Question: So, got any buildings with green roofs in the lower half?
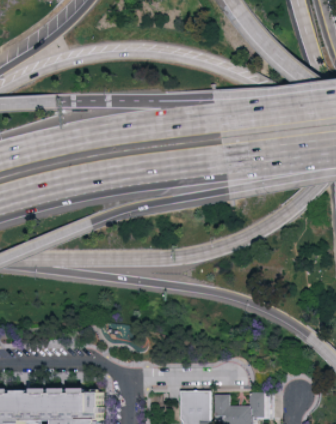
No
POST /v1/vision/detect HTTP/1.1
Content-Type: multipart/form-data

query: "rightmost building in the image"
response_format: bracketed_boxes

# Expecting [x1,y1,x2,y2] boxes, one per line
[215,394,272,424]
